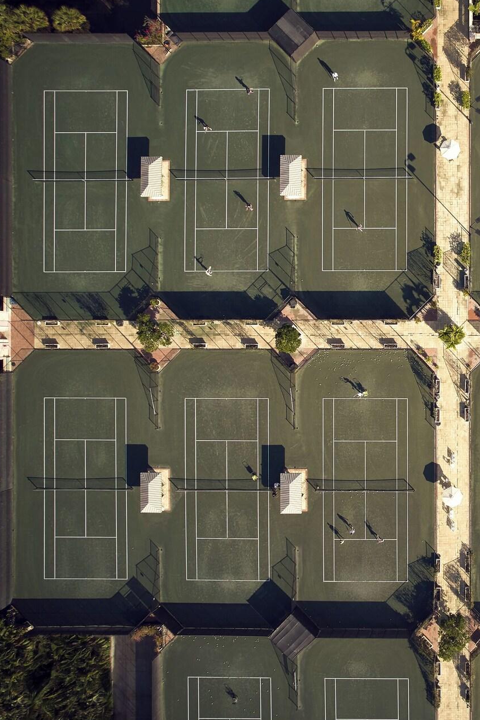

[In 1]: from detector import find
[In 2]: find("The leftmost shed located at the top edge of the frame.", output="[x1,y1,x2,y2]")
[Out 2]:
[269,8,317,61]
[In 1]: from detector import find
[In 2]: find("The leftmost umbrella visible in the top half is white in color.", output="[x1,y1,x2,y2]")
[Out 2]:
[440,141,461,162]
